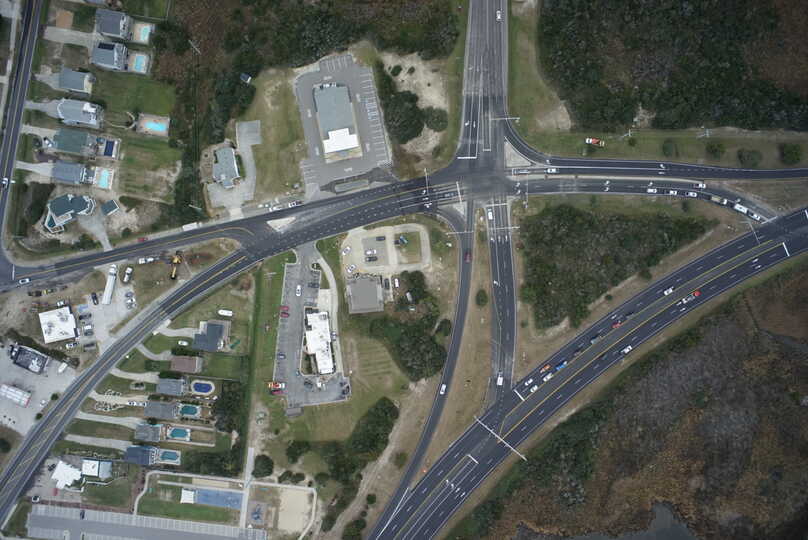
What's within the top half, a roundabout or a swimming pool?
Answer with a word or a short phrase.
swimming pool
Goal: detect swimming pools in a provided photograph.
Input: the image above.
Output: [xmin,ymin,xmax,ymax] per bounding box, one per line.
[166,426,192,442]
[132,21,155,44]
[191,380,215,396]
[127,51,150,73]
[180,403,201,418]
[94,167,114,189]
[98,136,122,160]
[159,448,181,465]
[136,112,171,137]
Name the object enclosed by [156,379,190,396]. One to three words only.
house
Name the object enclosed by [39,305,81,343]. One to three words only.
building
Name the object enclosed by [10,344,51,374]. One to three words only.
building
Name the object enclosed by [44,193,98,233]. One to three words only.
house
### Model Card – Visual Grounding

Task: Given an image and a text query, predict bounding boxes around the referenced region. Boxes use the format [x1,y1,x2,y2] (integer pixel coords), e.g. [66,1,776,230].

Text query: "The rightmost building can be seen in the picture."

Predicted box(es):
[349,275,383,313]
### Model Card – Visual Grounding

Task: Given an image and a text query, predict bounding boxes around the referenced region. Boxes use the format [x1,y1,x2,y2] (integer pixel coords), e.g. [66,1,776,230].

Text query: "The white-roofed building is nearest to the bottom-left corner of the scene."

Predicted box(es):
[51,459,85,489]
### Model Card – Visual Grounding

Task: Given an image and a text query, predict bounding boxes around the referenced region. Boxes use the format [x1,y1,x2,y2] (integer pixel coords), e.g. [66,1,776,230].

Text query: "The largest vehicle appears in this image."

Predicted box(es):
[99,267,116,306]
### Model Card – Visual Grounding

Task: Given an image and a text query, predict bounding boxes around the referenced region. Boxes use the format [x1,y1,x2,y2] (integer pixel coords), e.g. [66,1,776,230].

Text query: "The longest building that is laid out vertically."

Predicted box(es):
[305,307,335,378]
